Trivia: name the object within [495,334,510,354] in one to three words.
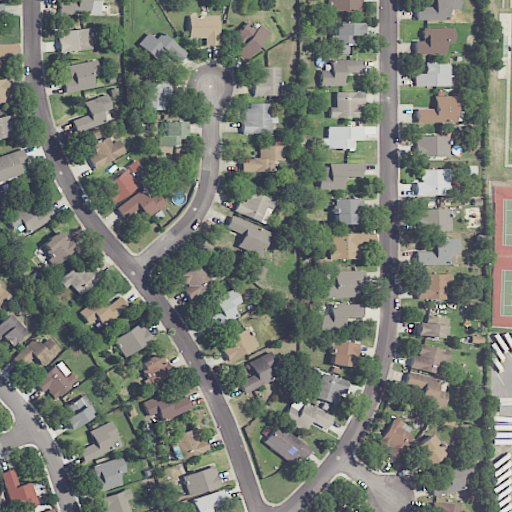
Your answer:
vehicle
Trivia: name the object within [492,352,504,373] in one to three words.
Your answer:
vehicle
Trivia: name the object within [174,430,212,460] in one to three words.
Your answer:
house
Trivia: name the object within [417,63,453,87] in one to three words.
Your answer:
house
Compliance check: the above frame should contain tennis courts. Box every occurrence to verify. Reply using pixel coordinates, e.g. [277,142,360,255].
[494,186,512,256]
[492,256,512,326]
